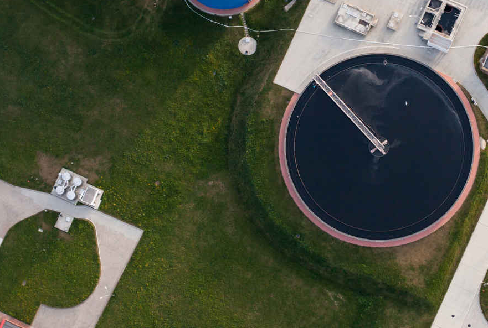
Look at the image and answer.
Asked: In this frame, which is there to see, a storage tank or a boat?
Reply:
storage tank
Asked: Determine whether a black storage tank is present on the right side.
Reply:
Yes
